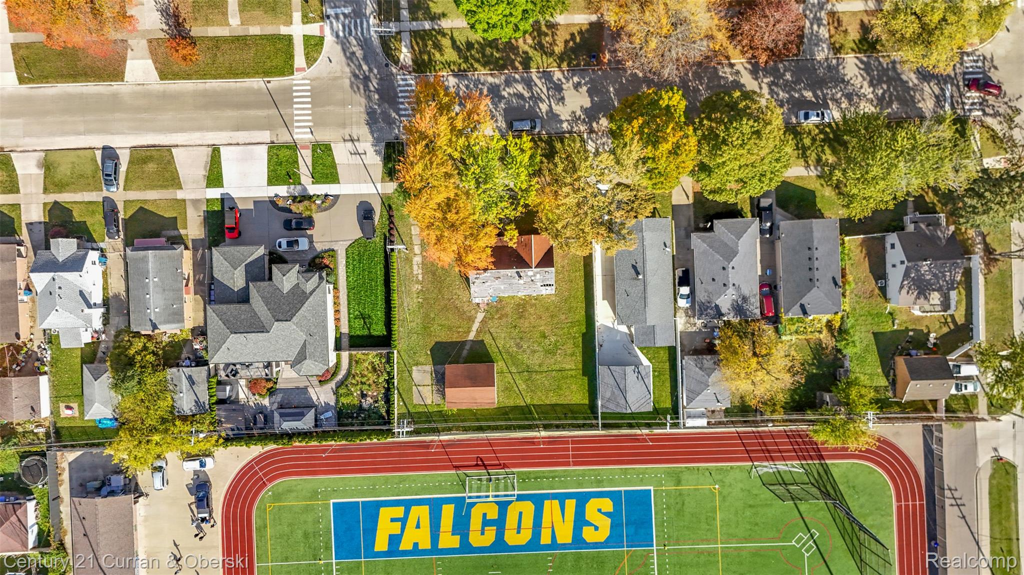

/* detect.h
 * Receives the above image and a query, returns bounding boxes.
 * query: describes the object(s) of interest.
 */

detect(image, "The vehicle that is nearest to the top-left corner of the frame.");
[102,158,120,190]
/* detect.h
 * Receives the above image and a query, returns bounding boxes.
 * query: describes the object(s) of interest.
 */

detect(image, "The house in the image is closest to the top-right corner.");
[887,214,965,314]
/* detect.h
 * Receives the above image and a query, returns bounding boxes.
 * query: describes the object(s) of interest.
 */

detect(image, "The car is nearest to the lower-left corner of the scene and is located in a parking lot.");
[151,458,170,492]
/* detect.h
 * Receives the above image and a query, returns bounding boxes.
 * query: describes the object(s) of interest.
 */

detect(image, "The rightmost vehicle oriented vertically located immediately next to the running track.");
[194,479,213,520]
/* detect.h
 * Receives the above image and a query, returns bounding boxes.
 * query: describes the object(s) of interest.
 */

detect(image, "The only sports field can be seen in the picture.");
[255,463,898,575]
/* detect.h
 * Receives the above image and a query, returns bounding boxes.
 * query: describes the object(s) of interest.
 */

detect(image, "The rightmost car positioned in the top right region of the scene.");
[967,78,1004,97]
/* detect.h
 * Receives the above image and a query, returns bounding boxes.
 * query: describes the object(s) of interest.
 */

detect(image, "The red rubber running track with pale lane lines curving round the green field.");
[219,425,930,575]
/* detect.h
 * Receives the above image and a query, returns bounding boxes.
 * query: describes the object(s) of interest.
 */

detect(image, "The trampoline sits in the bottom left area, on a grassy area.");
[13,458,48,487]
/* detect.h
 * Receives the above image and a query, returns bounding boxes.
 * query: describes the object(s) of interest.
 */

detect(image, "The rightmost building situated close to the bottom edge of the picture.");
[72,491,146,575]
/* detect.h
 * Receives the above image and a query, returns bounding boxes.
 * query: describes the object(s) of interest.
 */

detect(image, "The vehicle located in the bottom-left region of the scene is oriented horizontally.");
[182,455,215,471]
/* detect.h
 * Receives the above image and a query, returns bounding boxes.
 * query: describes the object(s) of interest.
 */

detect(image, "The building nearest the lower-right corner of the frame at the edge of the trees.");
[895,357,954,402]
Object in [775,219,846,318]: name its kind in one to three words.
house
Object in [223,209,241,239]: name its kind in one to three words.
car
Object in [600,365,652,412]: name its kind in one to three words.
building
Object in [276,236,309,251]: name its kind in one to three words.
car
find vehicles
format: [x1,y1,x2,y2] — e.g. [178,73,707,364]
[760,284,777,321]
[282,216,315,231]
[949,362,984,378]
[360,211,375,240]
[223,209,241,239]
[276,236,309,251]
[194,479,213,520]
[102,206,120,238]
[950,380,981,395]
[509,116,541,133]
[759,199,776,239]
[967,78,1004,97]
[102,158,120,190]
[182,455,215,471]
[151,458,170,492]
[676,268,693,308]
